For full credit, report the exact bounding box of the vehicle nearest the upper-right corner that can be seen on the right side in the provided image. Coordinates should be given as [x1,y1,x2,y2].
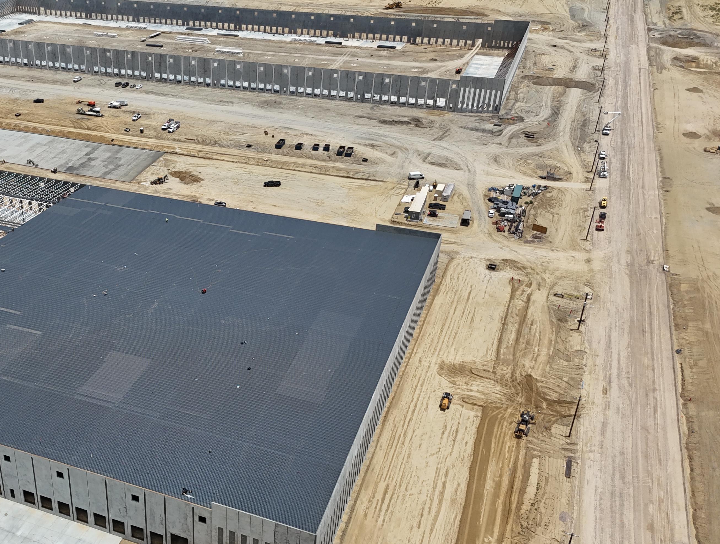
[603,111,621,132]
